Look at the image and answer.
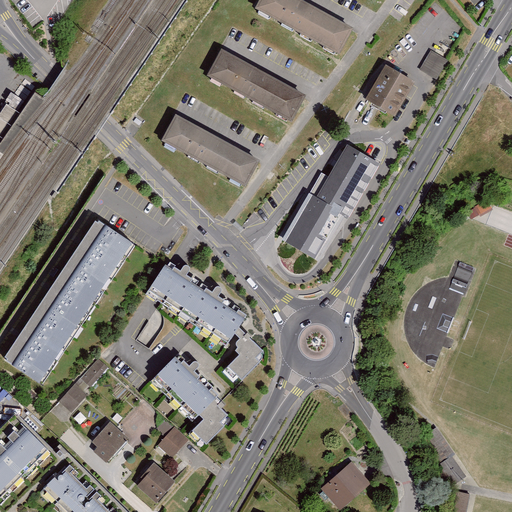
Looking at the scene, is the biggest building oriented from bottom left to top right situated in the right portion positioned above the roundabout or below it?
above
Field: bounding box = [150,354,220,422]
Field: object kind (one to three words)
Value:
building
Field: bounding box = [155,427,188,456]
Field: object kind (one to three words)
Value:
house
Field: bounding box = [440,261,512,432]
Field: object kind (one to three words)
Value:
soccer field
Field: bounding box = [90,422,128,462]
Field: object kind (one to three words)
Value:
house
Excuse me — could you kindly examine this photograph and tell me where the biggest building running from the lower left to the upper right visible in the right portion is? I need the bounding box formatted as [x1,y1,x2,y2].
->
[282,145,380,262]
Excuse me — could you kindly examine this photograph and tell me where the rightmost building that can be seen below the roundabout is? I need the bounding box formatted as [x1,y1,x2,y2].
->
[320,463,370,510]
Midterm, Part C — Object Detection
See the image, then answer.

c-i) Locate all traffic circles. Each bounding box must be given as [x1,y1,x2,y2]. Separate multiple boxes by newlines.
[280,306,352,378]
